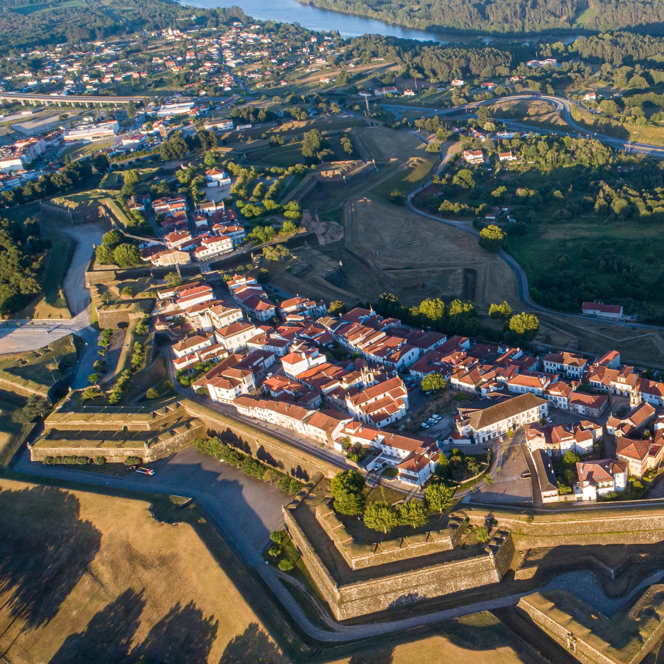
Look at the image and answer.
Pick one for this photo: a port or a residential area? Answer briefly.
residential area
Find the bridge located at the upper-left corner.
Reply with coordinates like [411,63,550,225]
[0,93,152,107]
